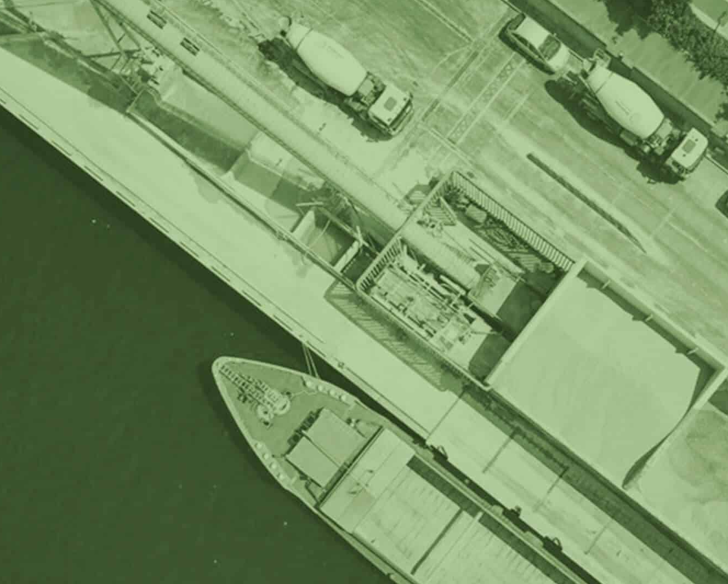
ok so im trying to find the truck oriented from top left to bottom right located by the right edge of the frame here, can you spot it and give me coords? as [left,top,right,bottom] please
[572,48,720,185]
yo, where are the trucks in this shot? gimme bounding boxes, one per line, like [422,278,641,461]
[572,48,720,185]
[273,10,423,142]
